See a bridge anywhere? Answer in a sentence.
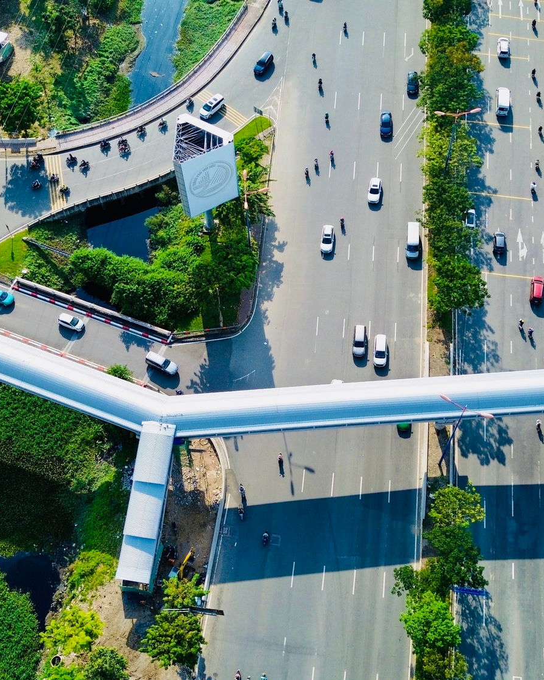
Yes, I can see a bridge in this picture.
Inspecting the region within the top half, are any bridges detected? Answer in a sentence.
Yes, I can see a bridge within the top half.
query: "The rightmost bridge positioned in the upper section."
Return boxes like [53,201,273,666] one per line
[43,169,176,218]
